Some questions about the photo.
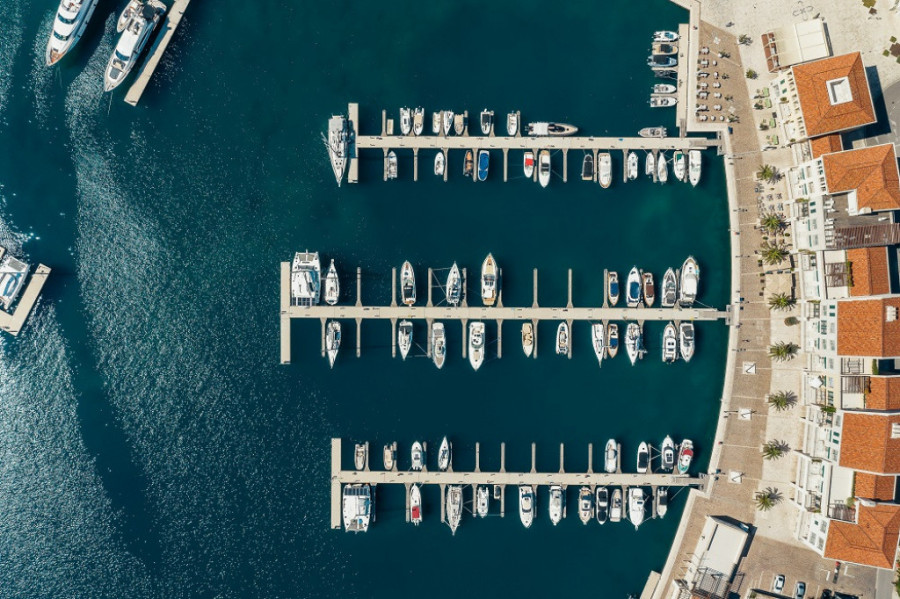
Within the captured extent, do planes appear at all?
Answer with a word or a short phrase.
No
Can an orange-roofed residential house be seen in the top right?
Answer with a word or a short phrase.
Yes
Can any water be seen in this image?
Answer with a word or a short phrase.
Yes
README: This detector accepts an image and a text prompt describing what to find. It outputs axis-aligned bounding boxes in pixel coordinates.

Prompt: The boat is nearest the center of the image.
[431,260,462,307]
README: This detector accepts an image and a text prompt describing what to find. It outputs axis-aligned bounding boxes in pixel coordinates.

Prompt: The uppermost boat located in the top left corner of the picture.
[115,0,138,32]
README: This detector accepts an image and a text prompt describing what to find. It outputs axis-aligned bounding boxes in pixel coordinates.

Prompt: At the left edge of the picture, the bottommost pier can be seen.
[0,263,53,336]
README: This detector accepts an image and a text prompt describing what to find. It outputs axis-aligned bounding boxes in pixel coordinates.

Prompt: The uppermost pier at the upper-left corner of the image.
[124,0,195,106]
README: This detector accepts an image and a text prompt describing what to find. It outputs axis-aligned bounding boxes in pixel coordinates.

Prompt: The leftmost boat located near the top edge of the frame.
[46,0,98,85]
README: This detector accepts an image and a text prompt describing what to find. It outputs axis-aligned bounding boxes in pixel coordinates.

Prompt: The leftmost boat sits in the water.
[0,255,31,311]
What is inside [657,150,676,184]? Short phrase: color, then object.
white boat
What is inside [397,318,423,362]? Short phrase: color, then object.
white boat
